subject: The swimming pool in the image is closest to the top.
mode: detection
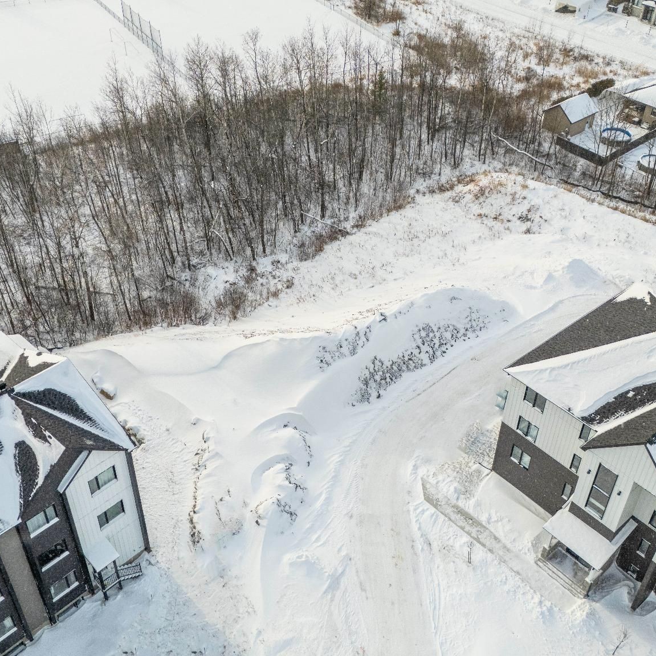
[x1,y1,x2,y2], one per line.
[599,130,632,149]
